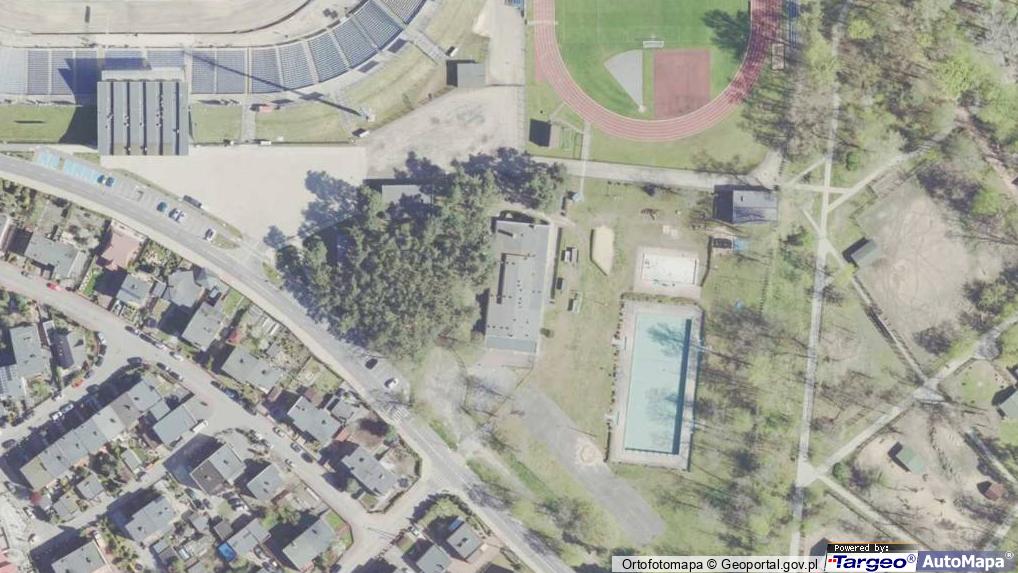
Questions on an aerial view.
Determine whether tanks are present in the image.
No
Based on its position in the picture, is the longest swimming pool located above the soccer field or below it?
below it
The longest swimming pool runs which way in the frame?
up and down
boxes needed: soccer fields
[557,0,749,118]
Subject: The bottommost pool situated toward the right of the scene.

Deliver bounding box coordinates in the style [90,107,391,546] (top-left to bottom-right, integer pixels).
[608,303,704,472]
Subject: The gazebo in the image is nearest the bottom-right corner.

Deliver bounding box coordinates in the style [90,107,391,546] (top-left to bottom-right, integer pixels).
[987,483,1006,499]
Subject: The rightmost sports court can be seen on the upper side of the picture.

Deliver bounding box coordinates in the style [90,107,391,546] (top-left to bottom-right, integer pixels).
[653,51,710,118]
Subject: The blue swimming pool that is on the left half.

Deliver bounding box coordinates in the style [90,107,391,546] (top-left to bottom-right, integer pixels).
[218,543,236,562]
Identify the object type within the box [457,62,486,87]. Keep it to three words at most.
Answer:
building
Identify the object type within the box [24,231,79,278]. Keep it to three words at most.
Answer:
house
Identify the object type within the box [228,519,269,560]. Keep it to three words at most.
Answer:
house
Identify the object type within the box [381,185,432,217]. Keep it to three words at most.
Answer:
building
